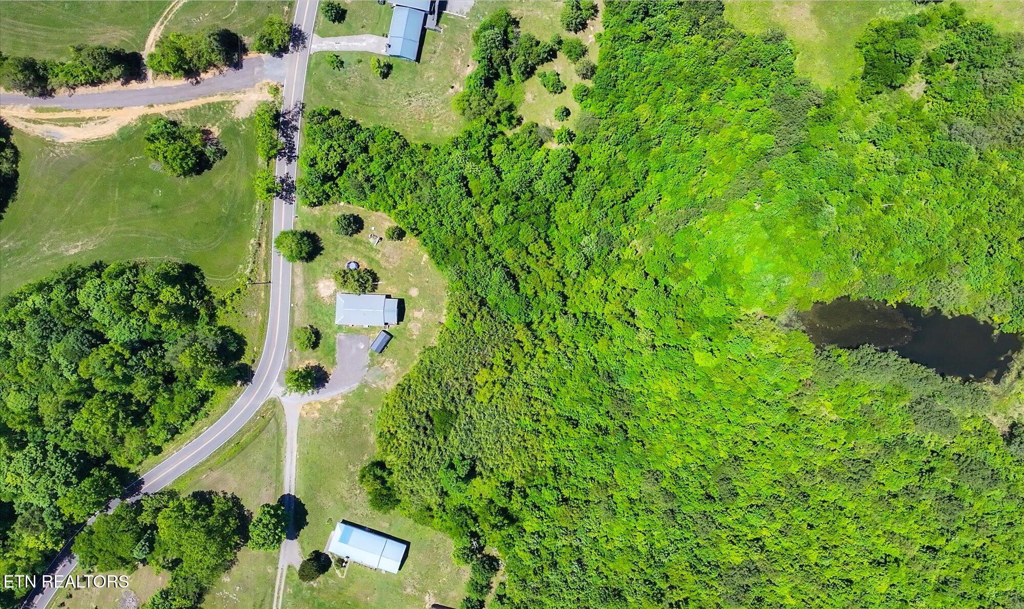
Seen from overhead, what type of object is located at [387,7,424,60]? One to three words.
building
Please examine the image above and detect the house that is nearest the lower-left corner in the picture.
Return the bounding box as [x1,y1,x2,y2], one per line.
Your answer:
[329,522,406,574]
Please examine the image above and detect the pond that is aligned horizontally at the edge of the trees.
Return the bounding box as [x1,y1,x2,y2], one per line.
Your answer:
[794,296,1021,381]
